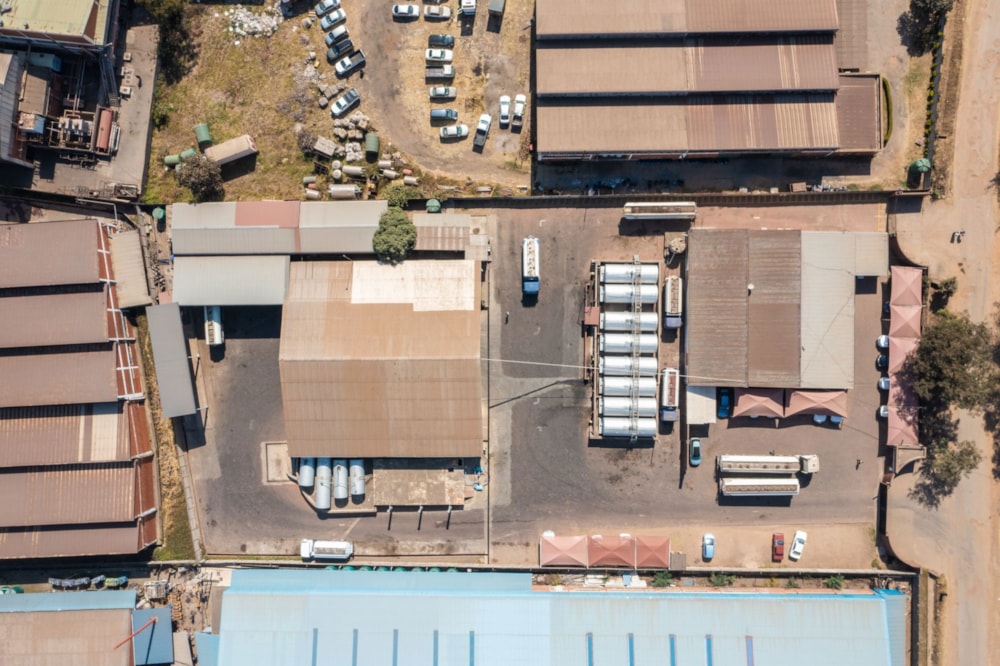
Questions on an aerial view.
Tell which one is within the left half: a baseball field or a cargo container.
cargo container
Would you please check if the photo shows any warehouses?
Yes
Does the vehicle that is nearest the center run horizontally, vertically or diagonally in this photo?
vertically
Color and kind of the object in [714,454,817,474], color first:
white vehicle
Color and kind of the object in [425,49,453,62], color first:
white vehicle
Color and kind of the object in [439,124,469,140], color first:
white car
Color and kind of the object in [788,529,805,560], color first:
white car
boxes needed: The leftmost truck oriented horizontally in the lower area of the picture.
[302,537,355,559]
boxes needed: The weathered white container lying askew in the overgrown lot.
[201,131,259,166]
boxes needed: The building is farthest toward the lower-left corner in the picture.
[0,590,143,666]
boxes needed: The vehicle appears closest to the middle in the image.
[521,237,541,296]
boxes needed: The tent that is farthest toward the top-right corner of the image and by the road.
[889,266,923,306]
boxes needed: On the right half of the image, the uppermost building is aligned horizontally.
[535,0,885,161]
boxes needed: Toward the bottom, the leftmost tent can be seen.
[539,530,588,567]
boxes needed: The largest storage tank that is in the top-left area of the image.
[95,107,124,157]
